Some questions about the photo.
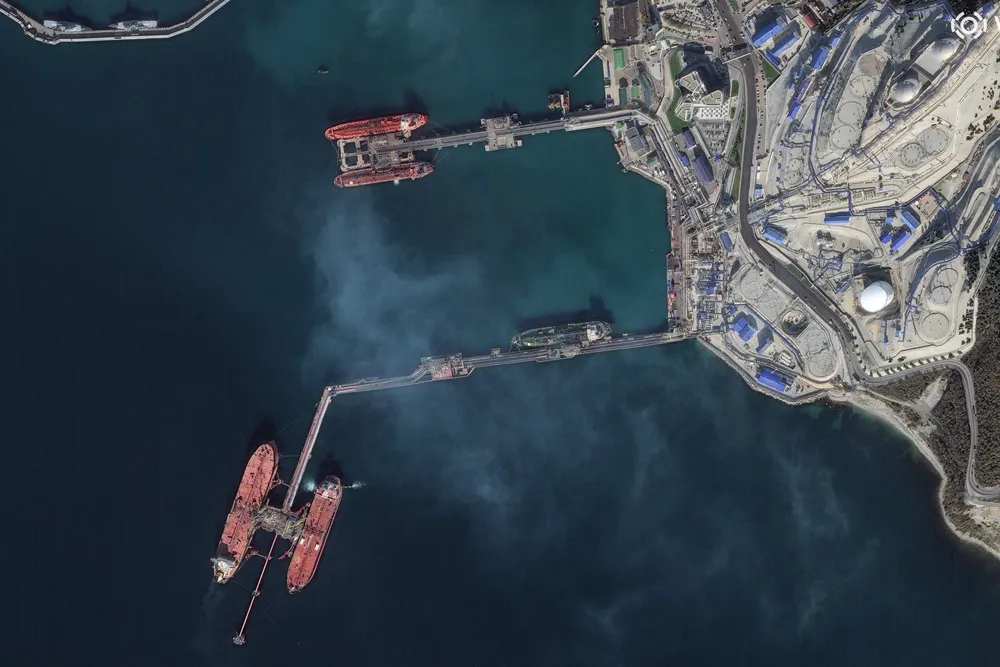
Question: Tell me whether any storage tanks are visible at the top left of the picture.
No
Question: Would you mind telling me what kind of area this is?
port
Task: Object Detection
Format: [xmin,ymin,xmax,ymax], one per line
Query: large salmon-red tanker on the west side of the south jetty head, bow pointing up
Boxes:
[210,442,276,585]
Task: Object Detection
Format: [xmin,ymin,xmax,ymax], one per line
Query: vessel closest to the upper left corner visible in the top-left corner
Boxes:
[43,20,93,33]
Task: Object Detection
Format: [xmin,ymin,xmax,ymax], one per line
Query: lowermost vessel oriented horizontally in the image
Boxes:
[512,321,615,351]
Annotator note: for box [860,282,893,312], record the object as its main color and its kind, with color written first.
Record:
white storage tank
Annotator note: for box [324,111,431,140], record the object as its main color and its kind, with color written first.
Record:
red ship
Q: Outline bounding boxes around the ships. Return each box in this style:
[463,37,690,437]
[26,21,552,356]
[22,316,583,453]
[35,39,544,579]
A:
[324,111,431,140]
[210,442,276,585]
[333,162,437,188]
[549,93,562,109]
[107,20,159,28]
[285,473,341,593]
[43,20,93,33]
[512,321,615,351]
